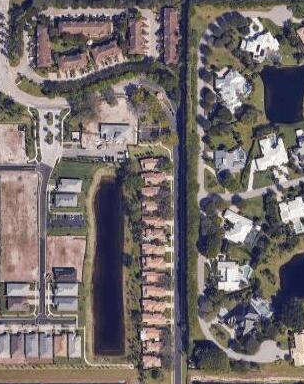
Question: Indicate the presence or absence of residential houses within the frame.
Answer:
Yes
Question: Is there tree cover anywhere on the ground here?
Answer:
Yes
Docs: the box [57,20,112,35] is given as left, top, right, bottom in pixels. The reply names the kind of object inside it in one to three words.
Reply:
house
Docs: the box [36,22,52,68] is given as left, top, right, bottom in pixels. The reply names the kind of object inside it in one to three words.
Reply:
house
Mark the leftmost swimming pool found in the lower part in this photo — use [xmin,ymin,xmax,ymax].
[239,262,253,280]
